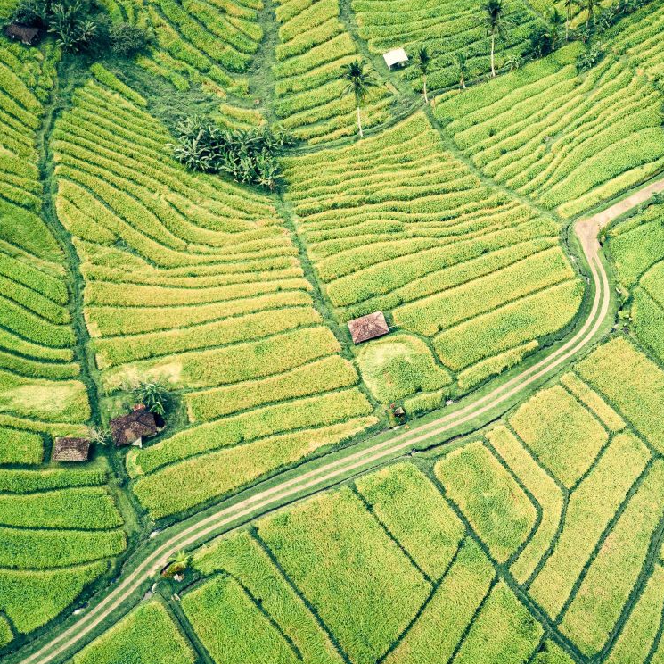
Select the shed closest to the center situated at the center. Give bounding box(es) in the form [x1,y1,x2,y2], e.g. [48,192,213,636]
[347,312,389,346]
